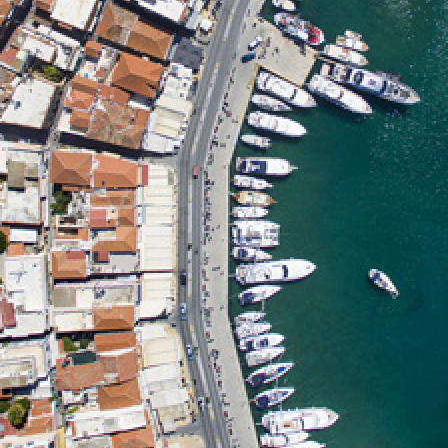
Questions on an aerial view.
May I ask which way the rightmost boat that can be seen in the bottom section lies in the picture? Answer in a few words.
on a diagonal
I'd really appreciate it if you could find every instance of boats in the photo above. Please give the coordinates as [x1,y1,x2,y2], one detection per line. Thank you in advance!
[273,11,325,44]
[322,42,369,65]
[250,69,318,107]
[376,69,402,81]
[254,432,311,448]
[241,132,271,148]
[231,322,272,350]
[227,249,272,269]
[249,387,296,423]
[228,175,271,192]
[235,190,281,207]
[336,34,368,52]
[231,158,299,176]
[230,259,318,287]
[226,220,280,249]
[302,72,375,113]
[311,56,422,105]
[227,206,269,224]
[343,25,368,42]
[231,286,283,314]
[242,112,308,138]
[368,267,400,301]
[245,92,293,112]
[235,310,266,327]
[242,364,294,404]
[256,408,341,438]
[232,334,285,353]
[243,346,286,366]
[274,0,297,11]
